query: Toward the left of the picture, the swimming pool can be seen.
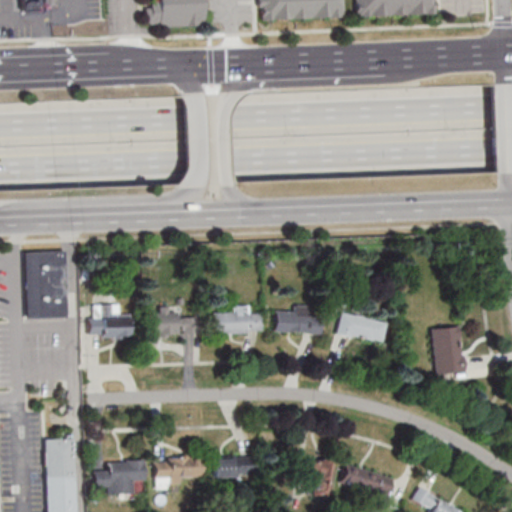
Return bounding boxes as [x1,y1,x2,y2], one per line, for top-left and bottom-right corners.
[154,494,168,508]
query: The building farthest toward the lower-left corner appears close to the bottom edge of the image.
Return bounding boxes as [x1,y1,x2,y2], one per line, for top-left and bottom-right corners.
[46,438,78,512]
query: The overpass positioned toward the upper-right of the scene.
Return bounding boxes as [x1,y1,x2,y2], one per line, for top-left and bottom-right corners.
[488,84,512,174]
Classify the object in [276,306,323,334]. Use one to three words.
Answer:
house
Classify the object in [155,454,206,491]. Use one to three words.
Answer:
house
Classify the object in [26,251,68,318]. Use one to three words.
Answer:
building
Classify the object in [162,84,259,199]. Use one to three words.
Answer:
overpass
